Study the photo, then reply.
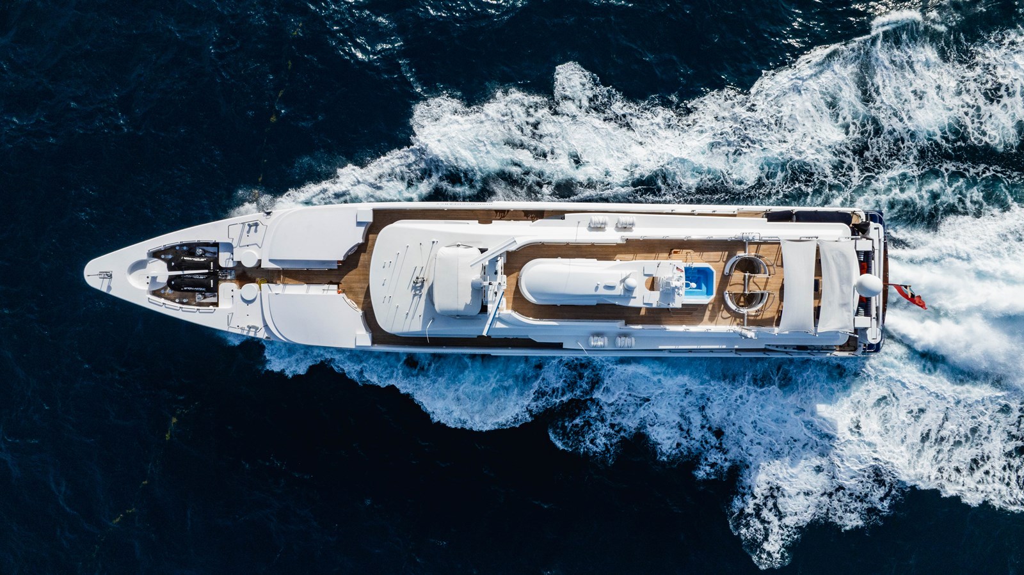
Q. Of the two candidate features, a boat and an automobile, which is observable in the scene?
boat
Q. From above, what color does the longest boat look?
white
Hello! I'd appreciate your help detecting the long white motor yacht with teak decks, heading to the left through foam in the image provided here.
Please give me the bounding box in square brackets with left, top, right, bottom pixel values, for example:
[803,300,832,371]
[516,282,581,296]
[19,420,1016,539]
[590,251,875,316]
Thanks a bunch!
[84,201,912,358]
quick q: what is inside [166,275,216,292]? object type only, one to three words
boat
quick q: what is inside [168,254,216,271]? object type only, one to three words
boat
